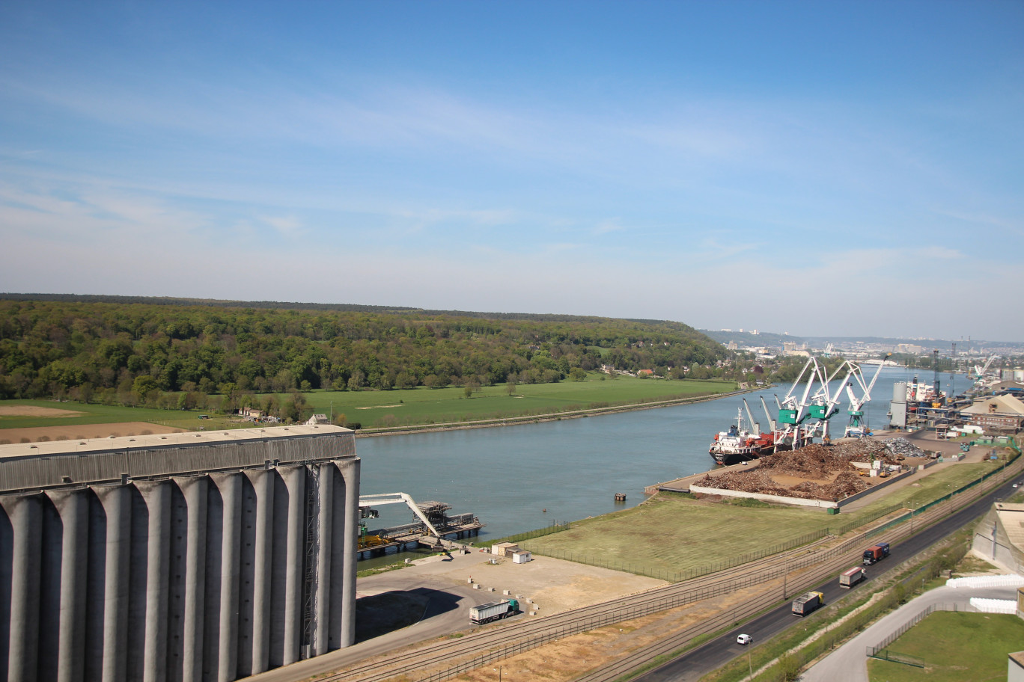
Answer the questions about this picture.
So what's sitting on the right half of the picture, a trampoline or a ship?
ship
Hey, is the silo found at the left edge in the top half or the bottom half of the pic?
bottom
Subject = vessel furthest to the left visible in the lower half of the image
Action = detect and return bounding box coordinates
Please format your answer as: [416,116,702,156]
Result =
[710,395,808,466]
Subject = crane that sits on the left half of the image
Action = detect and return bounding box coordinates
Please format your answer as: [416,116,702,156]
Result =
[357,491,443,555]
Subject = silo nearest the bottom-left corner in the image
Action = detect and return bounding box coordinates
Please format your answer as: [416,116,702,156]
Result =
[0,421,360,682]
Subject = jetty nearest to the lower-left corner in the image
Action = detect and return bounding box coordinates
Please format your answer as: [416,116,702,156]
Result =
[357,523,489,564]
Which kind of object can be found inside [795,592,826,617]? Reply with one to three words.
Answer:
truck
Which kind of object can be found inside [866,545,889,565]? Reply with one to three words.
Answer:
vehicle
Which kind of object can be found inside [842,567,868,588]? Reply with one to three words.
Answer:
truck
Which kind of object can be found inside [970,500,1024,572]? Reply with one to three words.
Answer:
hangar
